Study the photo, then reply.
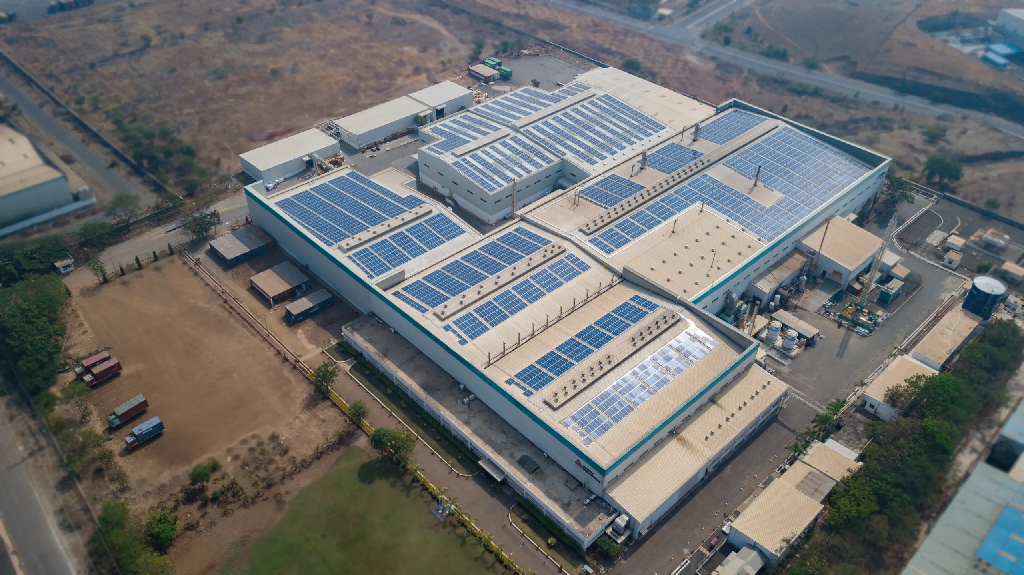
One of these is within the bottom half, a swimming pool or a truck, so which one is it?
truck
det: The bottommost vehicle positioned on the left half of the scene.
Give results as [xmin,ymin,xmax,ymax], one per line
[123,415,166,450]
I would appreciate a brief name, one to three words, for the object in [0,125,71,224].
building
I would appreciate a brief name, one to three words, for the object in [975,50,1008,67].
building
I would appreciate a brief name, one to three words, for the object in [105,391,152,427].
truck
